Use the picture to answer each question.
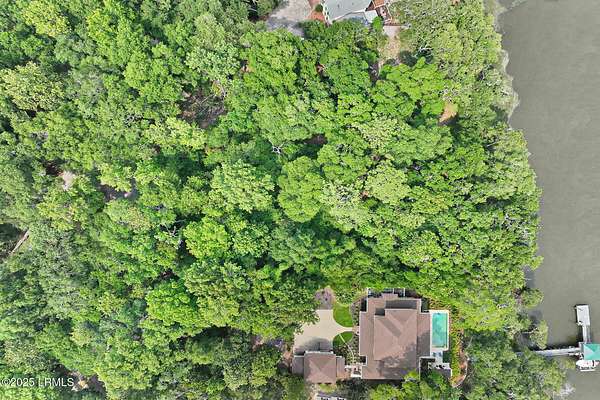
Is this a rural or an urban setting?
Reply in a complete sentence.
It looks rural.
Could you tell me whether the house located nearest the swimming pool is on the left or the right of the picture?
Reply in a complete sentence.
The house located nearest the swimming pool appears in the right half of the scene.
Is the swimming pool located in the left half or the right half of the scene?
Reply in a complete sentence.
You can find the swimming pool on the right side of the picture.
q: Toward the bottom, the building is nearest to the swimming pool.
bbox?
[356,290,430,380]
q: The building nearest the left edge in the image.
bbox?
[292,349,345,384]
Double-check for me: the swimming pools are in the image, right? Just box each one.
[431,310,451,351]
